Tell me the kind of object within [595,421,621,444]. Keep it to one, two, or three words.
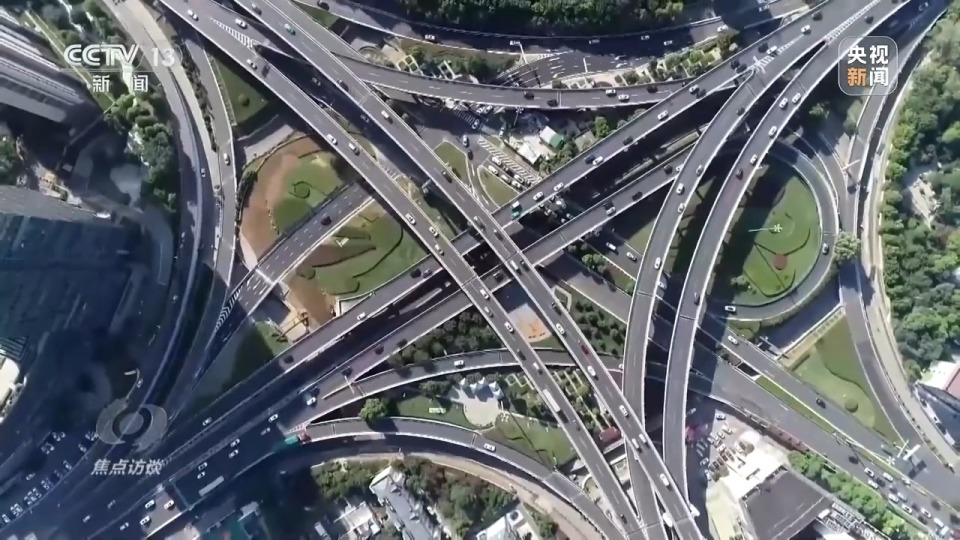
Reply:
building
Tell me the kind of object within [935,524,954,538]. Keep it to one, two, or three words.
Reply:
vehicle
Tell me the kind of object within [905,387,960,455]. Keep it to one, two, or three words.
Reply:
building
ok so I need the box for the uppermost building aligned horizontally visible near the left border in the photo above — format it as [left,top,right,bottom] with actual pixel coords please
[0,102,102,152]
